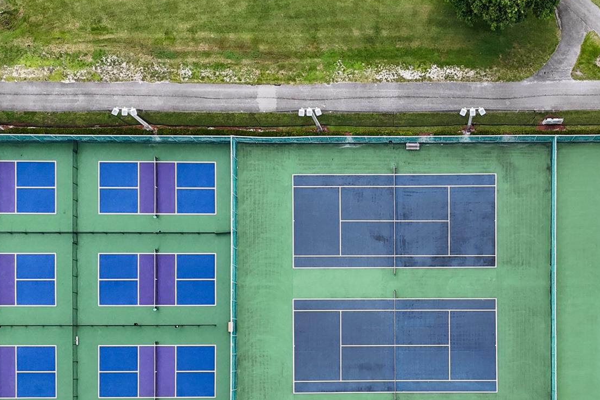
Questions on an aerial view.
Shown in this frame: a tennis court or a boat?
tennis court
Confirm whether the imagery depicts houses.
No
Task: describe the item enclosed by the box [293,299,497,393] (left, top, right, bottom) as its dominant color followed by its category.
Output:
blue tennis court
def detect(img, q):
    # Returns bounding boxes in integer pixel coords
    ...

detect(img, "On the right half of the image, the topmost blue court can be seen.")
[293,174,496,268]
